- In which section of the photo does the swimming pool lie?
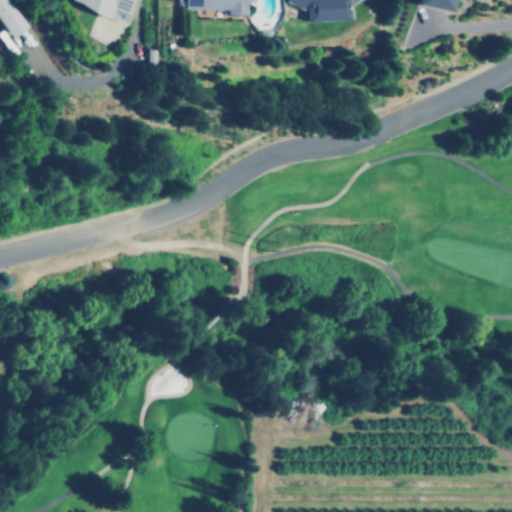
top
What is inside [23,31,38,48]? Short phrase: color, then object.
white vehicle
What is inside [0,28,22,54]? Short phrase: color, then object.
white camper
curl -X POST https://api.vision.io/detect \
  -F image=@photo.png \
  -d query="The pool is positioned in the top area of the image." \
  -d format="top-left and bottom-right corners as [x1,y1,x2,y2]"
[254,0,281,36]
